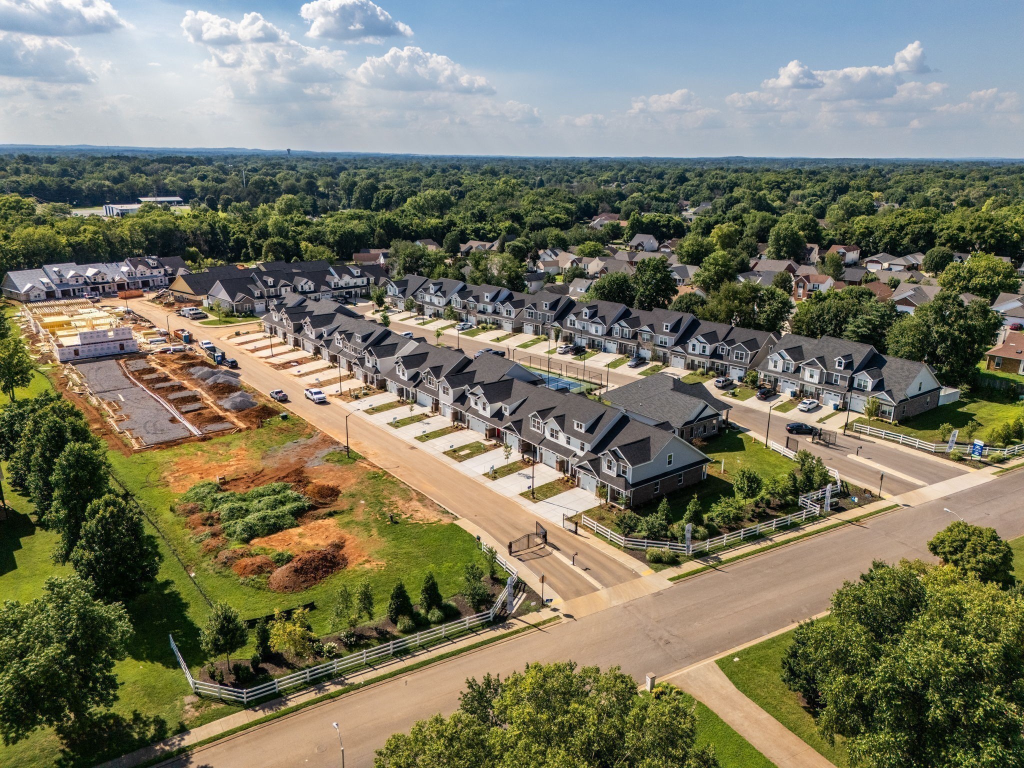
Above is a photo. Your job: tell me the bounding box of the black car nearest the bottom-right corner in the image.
[782,422,817,436]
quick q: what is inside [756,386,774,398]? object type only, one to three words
vehicle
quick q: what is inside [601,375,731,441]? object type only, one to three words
building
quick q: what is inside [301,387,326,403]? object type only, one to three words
vehicle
